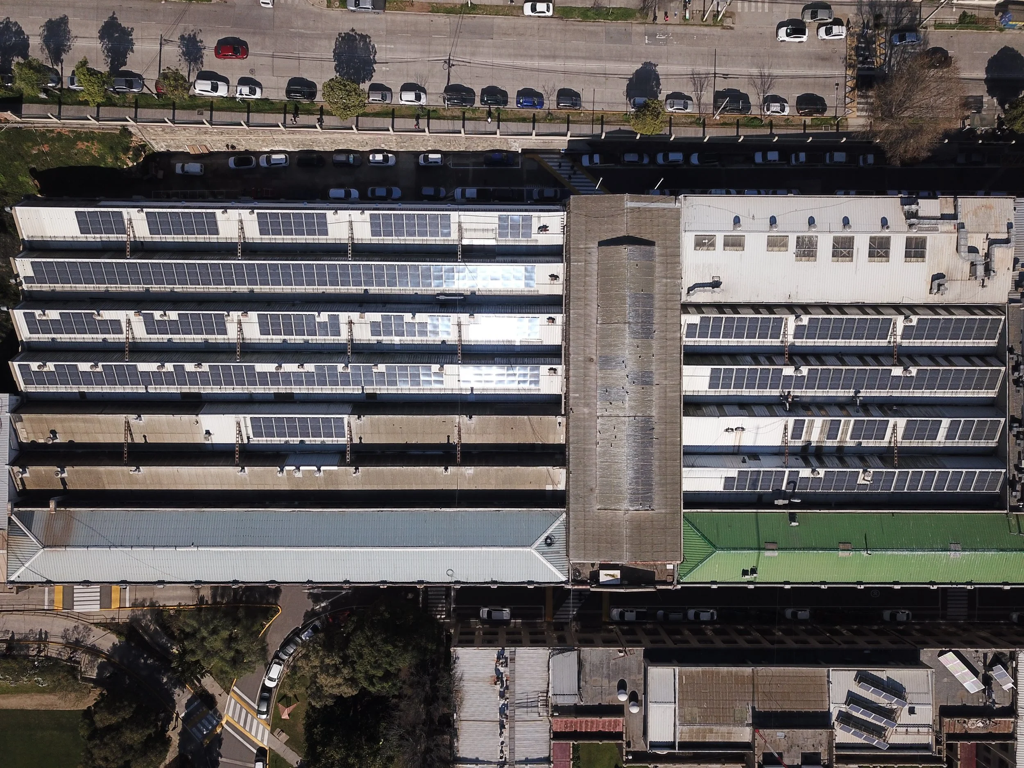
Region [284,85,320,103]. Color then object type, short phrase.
black car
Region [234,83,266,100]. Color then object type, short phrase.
white car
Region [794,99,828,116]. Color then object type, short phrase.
black car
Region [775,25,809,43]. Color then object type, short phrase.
white car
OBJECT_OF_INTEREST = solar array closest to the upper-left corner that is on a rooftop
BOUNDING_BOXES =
[74,213,126,236]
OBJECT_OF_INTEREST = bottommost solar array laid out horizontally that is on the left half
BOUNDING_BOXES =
[250,419,346,440]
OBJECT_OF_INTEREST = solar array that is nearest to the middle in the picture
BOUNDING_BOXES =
[460,369,542,391]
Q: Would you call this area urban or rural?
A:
urban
